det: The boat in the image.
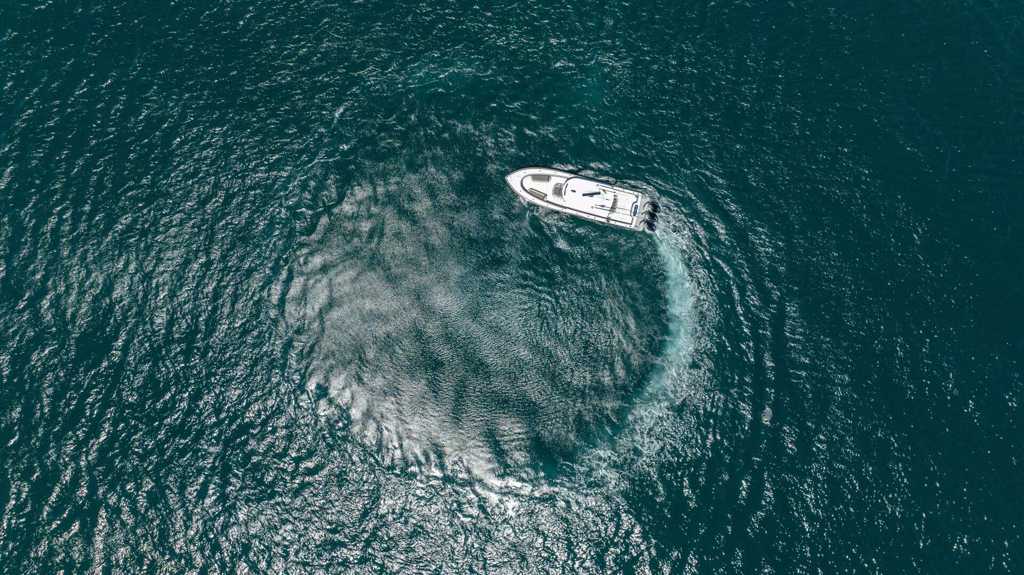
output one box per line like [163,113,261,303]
[504,166,660,231]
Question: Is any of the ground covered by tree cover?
No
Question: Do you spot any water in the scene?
Yes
